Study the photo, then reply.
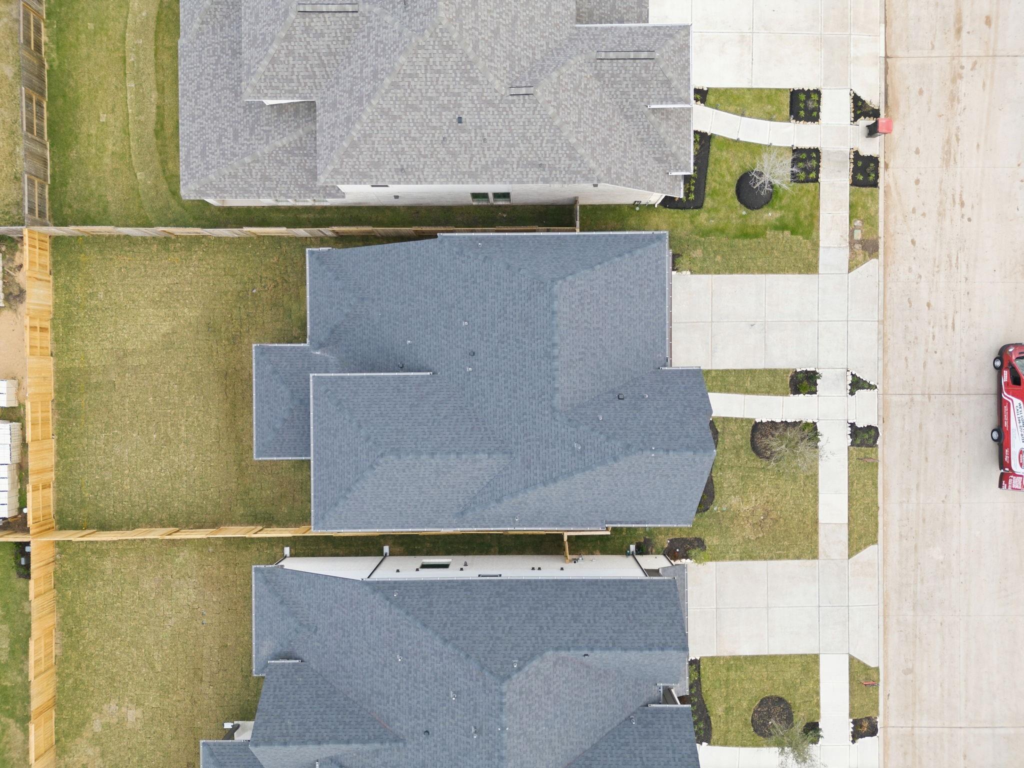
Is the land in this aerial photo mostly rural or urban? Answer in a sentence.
The area shown here is urban.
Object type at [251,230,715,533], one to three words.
house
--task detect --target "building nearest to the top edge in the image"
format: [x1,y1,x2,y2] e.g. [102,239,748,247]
[178,0,695,207]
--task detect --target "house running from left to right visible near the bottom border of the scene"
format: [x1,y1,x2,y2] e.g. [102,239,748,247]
[199,550,701,768]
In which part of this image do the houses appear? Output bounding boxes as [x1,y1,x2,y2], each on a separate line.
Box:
[178,0,695,207]
[251,230,715,533]
[199,550,701,768]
